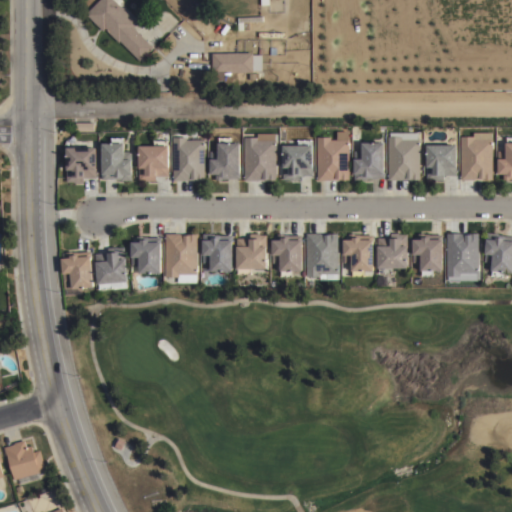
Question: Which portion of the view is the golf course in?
bottom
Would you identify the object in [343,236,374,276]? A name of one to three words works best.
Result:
house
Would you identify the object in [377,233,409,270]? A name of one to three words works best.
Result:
house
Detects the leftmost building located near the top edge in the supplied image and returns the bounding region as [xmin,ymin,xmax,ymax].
[86,0,152,60]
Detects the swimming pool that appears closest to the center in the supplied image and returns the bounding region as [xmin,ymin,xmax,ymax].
[202,272,228,288]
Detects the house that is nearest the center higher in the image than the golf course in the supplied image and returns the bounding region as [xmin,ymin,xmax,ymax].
[236,234,268,274]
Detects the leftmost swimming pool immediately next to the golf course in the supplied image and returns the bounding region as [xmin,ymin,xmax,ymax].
[133,274,160,292]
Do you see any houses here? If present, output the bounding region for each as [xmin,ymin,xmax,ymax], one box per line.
[486,236,512,277]
[307,234,340,281]
[377,233,409,270]
[212,54,261,73]
[164,234,200,284]
[210,138,241,181]
[100,138,132,181]
[498,137,512,181]
[354,142,385,181]
[130,237,162,274]
[137,140,169,182]
[317,132,351,182]
[4,444,44,480]
[60,252,92,290]
[64,146,97,183]
[94,247,128,290]
[271,236,304,278]
[390,132,422,181]
[281,140,313,182]
[236,234,268,274]
[173,136,206,182]
[244,134,278,182]
[462,132,494,182]
[86,0,152,60]
[343,236,374,276]
[446,233,480,282]
[202,234,234,272]
[412,236,444,277]
[26,494,60,512]
[426,144,458,182]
